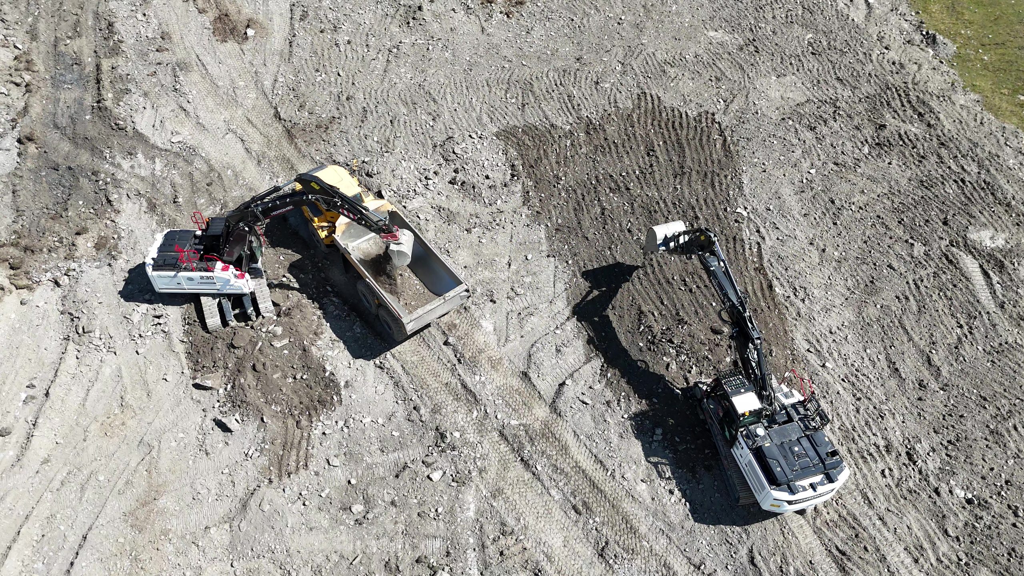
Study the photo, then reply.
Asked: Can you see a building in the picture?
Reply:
No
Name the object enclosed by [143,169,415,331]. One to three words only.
work vehicle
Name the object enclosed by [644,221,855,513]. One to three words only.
work vehicle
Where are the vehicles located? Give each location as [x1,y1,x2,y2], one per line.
[143,169,415,331]
[644,221,855,513]
[290,161,474,351]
